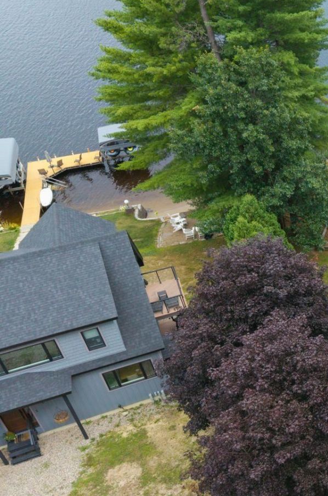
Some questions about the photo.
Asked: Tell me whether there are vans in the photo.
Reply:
No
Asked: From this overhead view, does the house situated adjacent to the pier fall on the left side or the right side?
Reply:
left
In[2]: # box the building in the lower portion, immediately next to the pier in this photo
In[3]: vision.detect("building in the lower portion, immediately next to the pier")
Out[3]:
[0,201,204,464]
